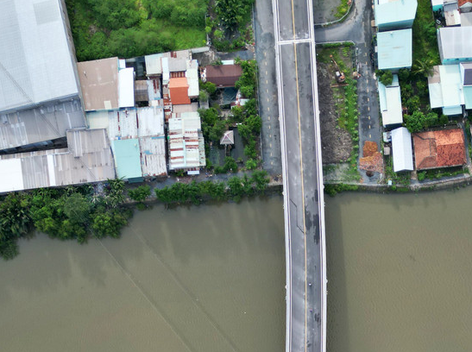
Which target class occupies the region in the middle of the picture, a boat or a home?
home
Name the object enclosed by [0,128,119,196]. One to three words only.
building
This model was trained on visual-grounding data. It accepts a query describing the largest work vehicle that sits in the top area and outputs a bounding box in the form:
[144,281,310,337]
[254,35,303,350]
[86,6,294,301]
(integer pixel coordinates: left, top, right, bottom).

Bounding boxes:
[327,51,348,84]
